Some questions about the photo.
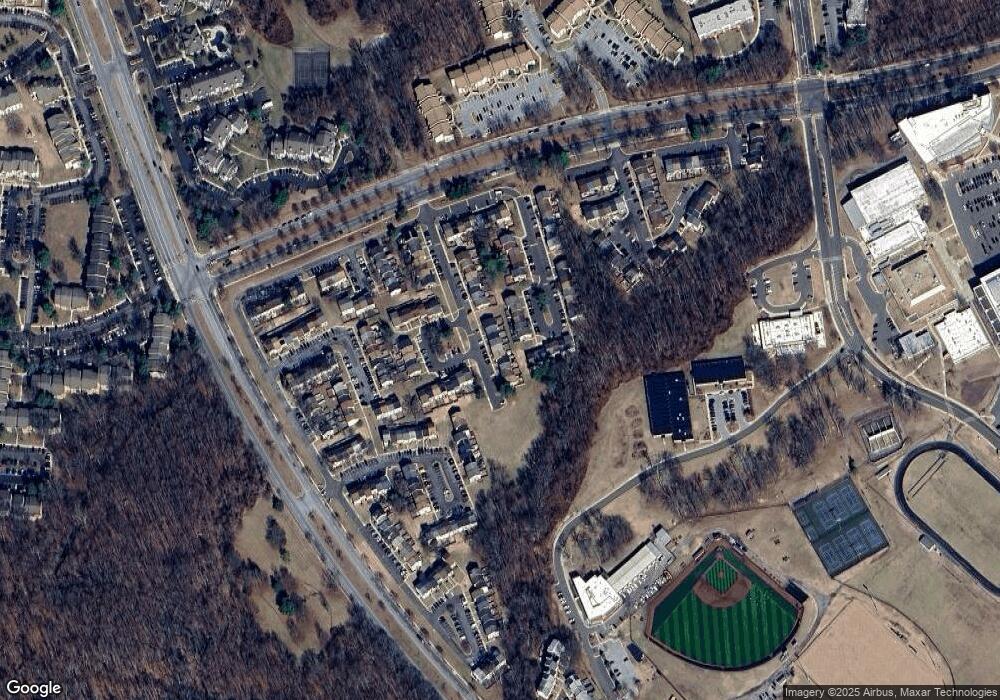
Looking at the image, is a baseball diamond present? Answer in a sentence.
Yes, a baseball diamond is visible in the scene.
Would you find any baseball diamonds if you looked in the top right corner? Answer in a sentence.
No, I see no baseball diamond in the top right corner.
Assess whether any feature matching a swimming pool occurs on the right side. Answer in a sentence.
No, on the right side there is no swimming pool.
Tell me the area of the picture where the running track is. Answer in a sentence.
The running track sits in the bottom right section of the image.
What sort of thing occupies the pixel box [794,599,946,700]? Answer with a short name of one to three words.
sports field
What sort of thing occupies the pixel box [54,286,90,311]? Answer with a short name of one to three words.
building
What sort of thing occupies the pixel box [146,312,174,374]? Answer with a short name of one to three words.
building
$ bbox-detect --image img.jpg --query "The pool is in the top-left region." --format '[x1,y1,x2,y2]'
[202,23,233,60]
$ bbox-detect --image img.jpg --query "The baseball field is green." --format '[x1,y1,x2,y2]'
[645,535,802,671]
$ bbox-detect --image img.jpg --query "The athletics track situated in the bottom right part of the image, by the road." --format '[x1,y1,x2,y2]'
[895,440,1000,594]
